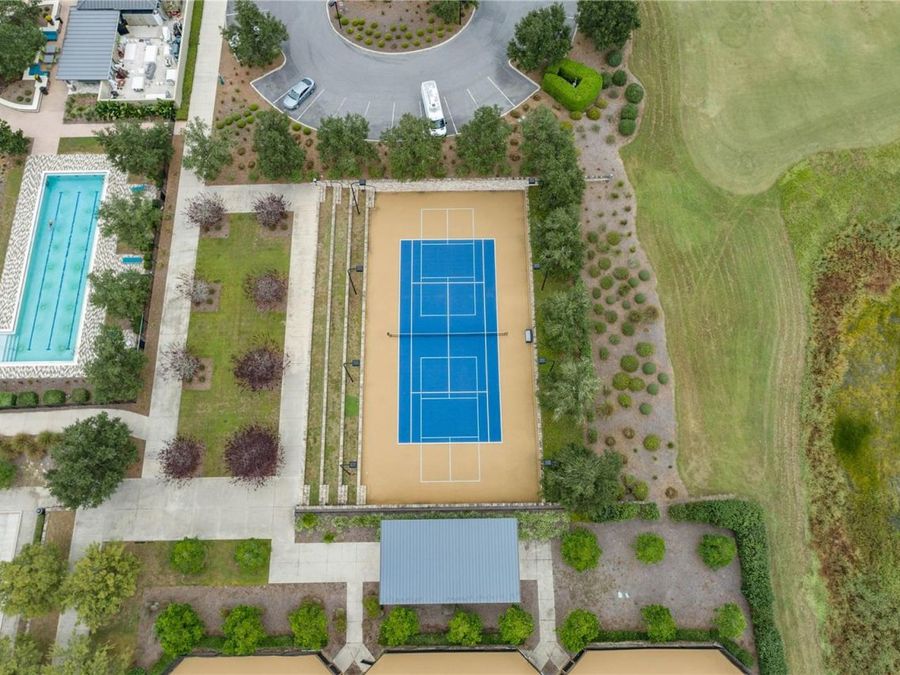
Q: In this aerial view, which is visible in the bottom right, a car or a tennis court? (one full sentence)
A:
You can see a tennis court in the bottom right.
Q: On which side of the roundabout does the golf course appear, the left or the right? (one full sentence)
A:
To the right of the roundabout is where the golf course appears.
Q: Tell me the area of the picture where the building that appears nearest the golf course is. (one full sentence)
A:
The building that appears nearest the golf course is located in the bottom region of the scene.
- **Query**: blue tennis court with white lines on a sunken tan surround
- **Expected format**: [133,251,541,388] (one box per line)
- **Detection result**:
[360,190,541,503]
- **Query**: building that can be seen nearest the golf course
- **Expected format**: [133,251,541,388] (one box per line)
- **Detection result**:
[378,518,521,605]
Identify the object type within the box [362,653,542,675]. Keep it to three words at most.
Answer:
tennis court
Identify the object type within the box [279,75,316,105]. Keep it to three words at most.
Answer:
car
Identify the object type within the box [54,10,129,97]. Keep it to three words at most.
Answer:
building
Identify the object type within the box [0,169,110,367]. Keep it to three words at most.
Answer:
swimming pool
